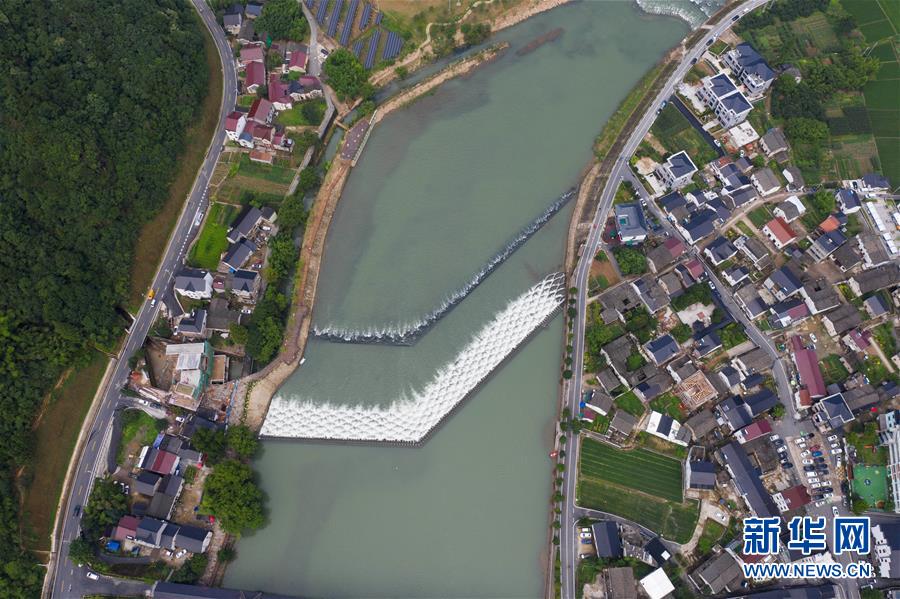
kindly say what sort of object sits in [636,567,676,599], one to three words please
house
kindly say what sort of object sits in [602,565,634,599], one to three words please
barn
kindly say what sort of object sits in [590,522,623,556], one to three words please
building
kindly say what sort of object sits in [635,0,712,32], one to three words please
dam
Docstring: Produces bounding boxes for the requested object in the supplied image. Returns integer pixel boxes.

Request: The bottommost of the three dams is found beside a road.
[258,266,566,450]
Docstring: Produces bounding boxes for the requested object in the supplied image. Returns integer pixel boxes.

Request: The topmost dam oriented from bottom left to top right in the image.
[308,177,585,346]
